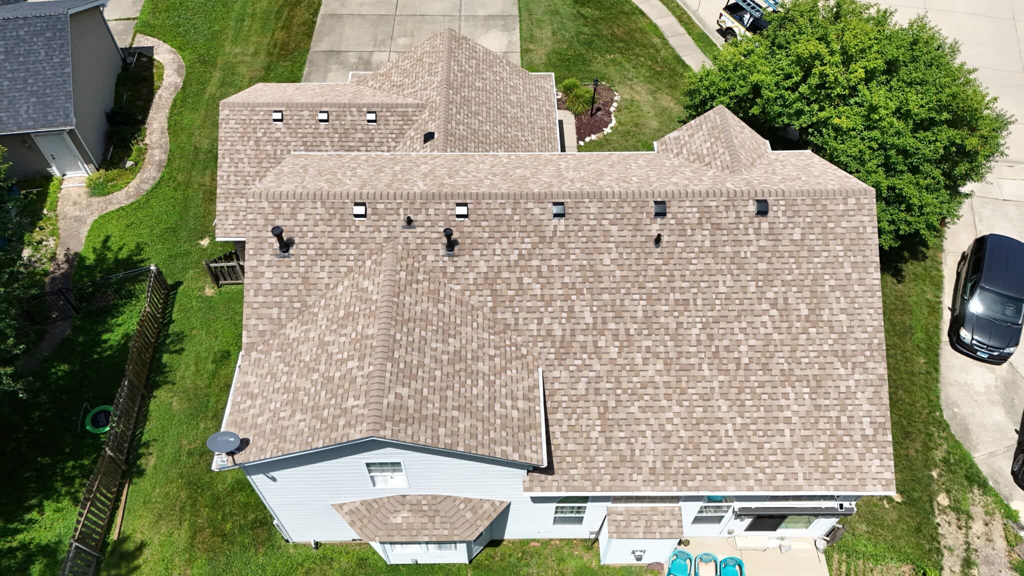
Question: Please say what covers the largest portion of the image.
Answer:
buildings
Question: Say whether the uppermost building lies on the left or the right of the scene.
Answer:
left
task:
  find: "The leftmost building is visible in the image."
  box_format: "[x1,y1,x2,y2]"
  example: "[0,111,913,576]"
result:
[0,4,124,180]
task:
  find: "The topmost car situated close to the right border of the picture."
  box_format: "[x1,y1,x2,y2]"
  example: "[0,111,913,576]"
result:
[948,238,1024,369]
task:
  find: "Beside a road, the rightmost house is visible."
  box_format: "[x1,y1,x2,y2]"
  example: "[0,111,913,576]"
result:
[209,28,897,567]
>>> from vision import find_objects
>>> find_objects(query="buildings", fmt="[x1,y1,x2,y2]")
[209,28,897,567]
[0,4,124,180]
